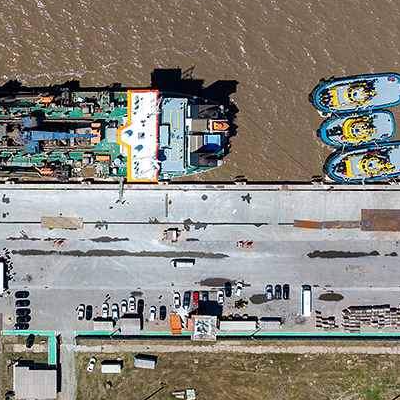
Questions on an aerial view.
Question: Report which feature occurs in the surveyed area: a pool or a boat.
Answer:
boat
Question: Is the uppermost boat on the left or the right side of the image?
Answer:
right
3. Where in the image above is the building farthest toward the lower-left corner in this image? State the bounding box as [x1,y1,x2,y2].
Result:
[12,363,57,400]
